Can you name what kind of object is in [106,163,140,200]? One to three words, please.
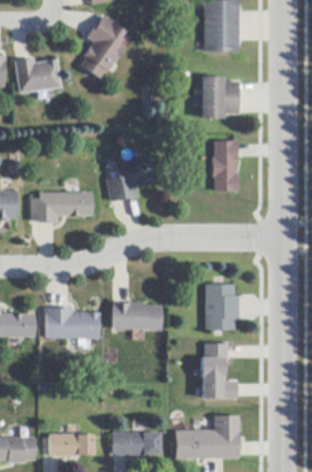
house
